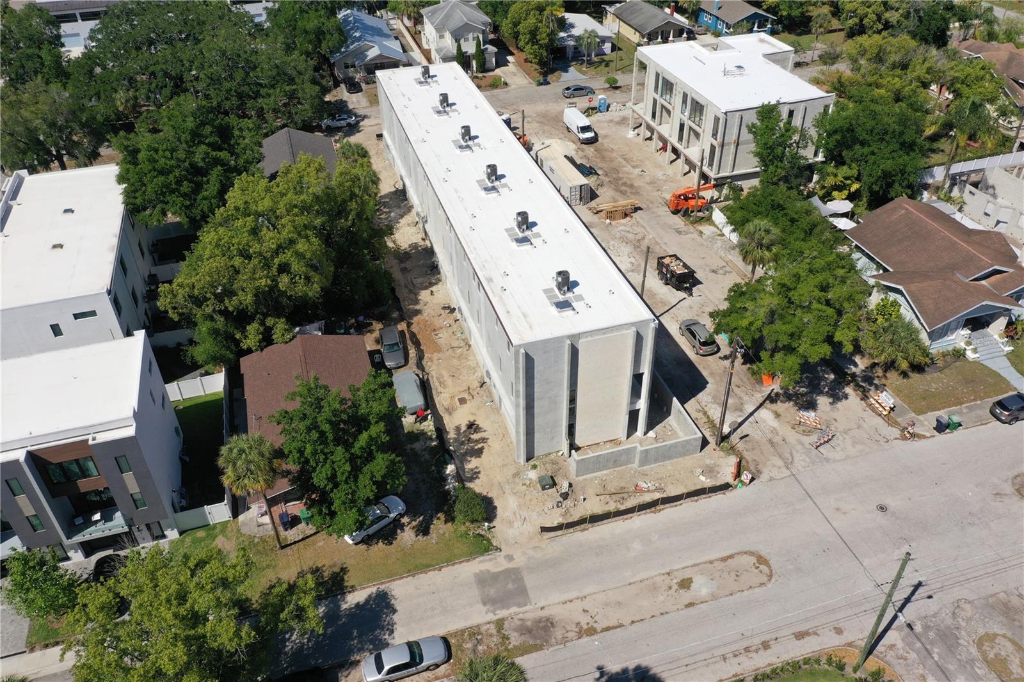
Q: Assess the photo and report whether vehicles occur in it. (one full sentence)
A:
Yes, this view includes a vehicle.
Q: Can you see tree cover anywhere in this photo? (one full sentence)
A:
Yes, there's tree cover in this view.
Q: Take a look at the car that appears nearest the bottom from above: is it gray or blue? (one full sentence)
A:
In this view, the car that appears nearest the bottom is gray.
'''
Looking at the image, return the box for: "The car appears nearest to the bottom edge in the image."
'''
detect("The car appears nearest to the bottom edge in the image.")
[359,633,450,682]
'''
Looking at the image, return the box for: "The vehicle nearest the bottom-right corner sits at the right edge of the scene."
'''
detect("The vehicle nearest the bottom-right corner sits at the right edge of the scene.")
[991,388,1024,423]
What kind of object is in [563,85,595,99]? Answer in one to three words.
car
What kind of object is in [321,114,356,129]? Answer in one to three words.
car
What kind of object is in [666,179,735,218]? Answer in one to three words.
work vehicle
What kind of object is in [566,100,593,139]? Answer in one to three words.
vehicle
